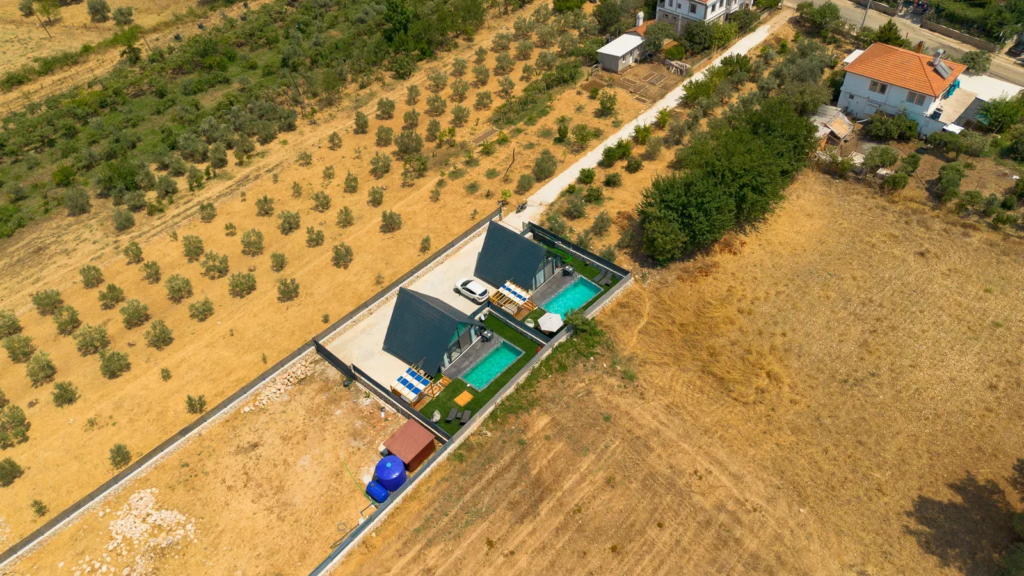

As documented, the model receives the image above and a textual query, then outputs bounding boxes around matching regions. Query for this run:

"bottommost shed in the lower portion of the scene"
[383,419,435,474]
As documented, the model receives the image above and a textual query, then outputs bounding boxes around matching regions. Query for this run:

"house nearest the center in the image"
[473,222,570,303]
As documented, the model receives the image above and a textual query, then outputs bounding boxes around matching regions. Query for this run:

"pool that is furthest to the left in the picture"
[458,339,525,392]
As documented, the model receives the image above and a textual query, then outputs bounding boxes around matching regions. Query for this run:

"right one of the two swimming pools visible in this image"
[542,274,602,320]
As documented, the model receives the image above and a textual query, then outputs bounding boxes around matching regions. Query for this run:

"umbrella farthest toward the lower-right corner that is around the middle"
[534,310,566,335]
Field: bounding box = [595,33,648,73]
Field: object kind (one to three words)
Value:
shed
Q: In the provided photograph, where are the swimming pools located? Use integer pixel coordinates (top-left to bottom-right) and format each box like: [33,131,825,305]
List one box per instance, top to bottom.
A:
[542,274,602,320]
[458,339,525,392]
